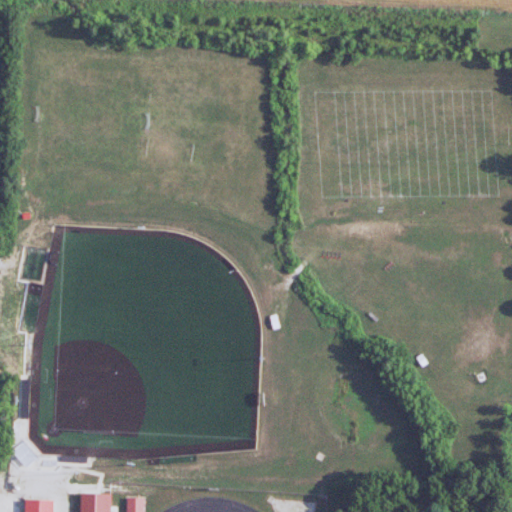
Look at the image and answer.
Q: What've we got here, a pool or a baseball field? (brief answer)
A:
baseball field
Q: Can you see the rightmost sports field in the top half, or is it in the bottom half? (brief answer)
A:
top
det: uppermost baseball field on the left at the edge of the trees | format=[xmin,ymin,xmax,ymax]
[30,227,261,458]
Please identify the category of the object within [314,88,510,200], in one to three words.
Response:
sports field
